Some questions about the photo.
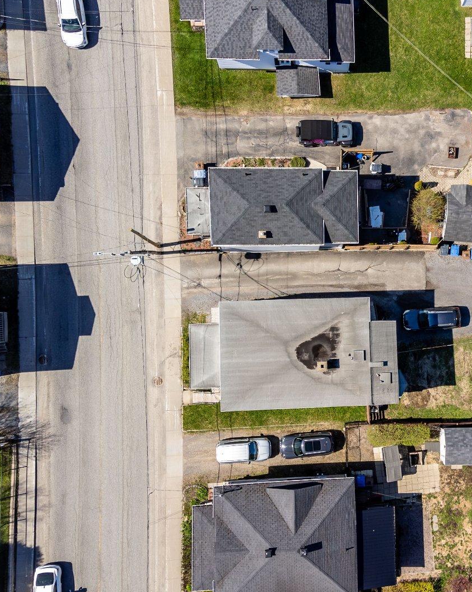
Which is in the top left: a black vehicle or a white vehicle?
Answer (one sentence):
Visible in the top left is a white vehicle.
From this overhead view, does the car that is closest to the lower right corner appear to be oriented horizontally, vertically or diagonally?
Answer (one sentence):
The car that is closest to the lower right corner is laid out horizontally.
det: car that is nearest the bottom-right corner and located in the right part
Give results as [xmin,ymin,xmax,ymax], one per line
[278,430,336,459]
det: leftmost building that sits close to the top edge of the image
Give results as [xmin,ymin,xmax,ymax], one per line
[178,0,356,104]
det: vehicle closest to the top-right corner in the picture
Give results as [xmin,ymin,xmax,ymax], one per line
[298,118,353,146]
